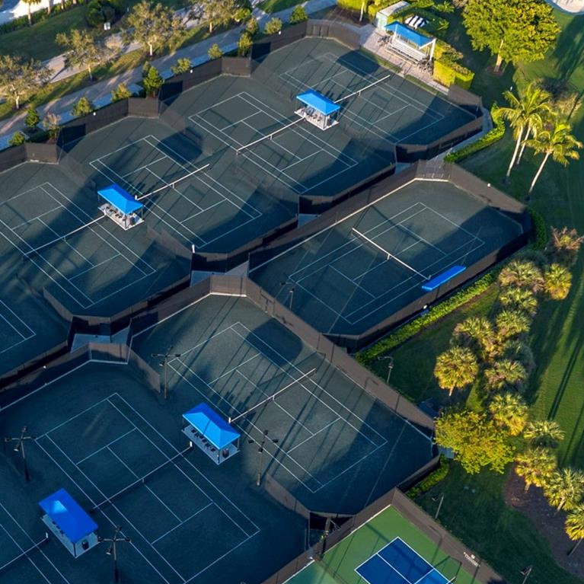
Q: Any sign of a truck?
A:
No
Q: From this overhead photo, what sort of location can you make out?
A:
sports ground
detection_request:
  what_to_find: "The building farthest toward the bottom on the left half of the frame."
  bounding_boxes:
[37,486,101,558]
